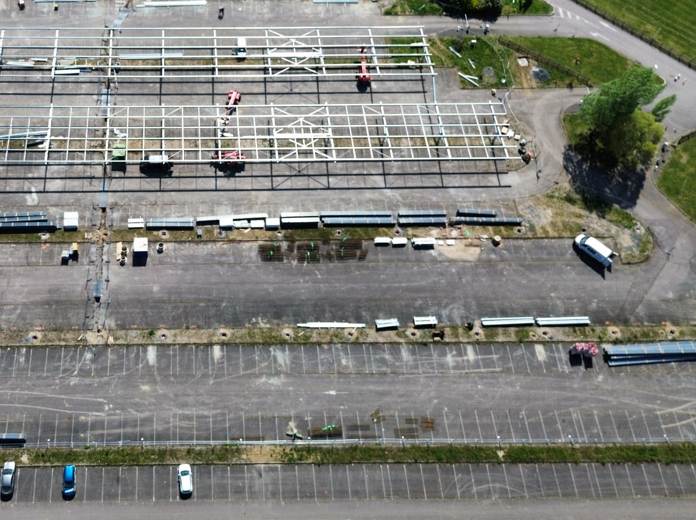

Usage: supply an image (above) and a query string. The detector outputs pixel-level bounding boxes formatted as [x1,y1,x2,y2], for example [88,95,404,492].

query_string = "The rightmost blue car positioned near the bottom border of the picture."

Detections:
[62,469,76,498]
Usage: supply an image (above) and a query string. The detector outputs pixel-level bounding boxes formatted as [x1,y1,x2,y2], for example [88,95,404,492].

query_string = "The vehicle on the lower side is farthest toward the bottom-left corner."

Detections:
[1,464,16,497]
